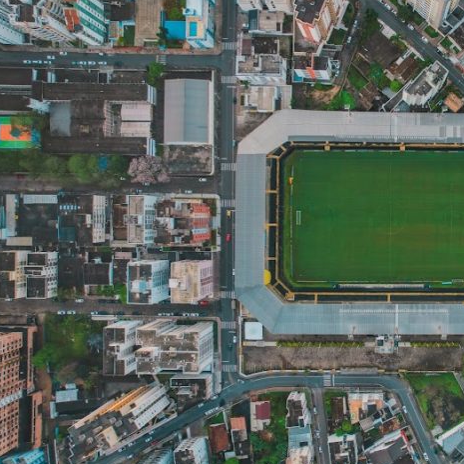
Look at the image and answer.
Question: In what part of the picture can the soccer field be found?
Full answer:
The soccer field sits in the right section of the image.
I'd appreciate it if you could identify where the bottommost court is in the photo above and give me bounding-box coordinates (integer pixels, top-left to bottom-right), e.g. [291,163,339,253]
[0,116,40,148]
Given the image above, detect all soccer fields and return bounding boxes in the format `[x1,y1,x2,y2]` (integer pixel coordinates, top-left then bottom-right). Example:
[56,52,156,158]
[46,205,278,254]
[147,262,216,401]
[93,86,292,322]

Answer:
[284,151,464,289]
